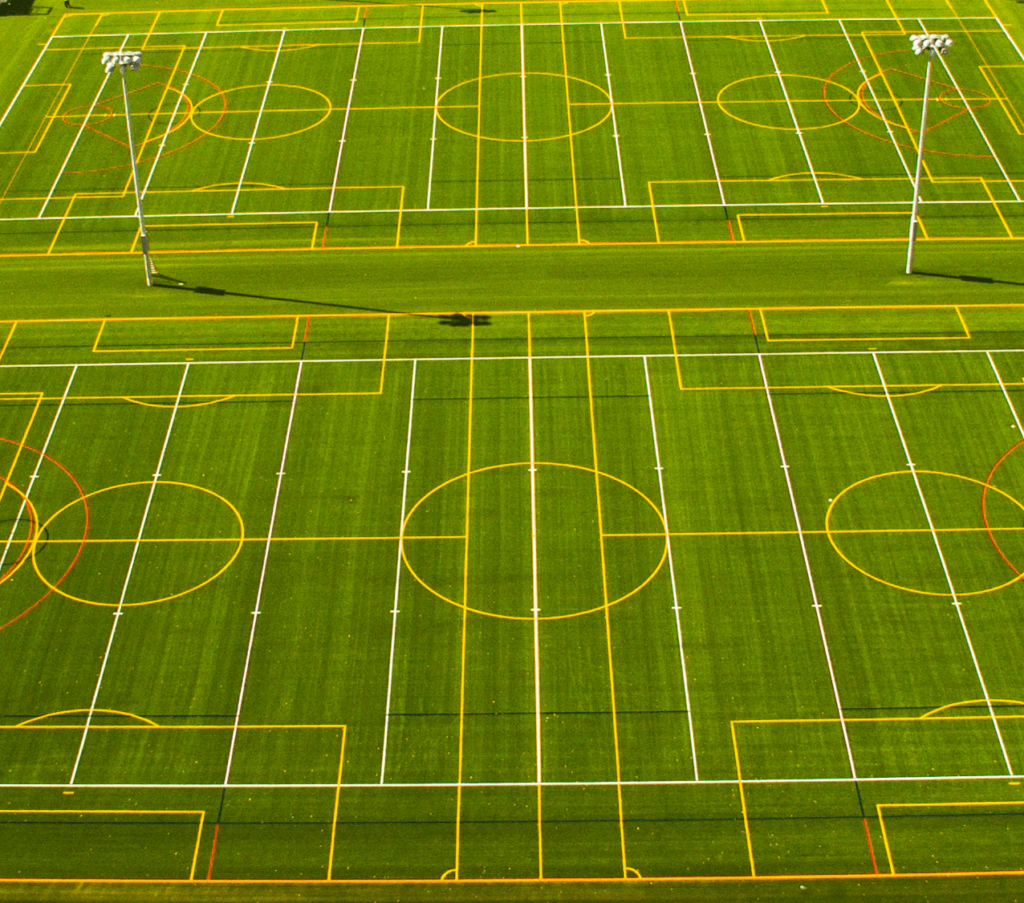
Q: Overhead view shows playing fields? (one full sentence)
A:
Yes, the photo shows a playing field.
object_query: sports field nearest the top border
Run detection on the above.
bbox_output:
[0,0,1024,257]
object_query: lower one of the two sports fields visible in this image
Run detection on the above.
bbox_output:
[0,304,1024,883]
